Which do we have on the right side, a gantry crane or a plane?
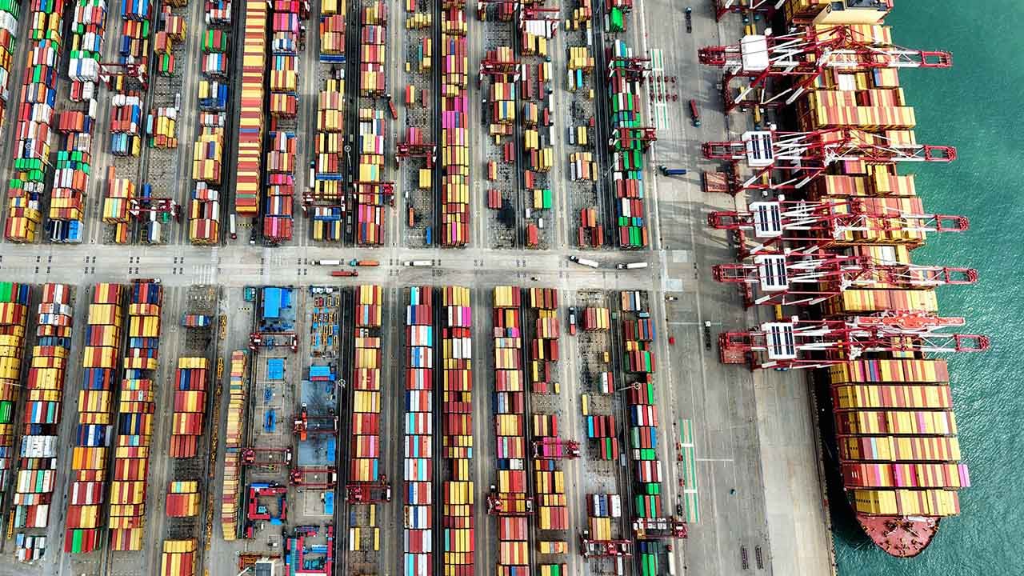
gantry crane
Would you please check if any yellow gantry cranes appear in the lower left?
No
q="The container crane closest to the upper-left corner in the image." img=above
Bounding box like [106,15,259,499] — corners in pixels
[98,63,162,96]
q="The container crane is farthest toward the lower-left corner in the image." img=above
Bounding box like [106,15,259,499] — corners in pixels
[241,446,300,467]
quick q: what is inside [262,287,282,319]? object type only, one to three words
shed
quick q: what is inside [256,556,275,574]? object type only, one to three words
shed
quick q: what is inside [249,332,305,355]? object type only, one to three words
container crane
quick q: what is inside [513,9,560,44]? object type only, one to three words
container crane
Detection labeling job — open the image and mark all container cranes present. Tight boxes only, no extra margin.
[713,313,994,375]
[601,127,656,158]
[241,446,300,467]
[249,332,305,355]
[474,0,520,28]
[707,245,983,314]
[620,513,689,539]
[525,438,580,460]
[483,490,533,514]
[477,61,521,94]
[690,17,948,116]
[570,531,632,558]
[718,0,791,32]
[353,182,400,210]
[697,118,963,202]
[268,0,314,25]
[289,466,343,489]
[130,198,192,226]
[293,414,345,436]
[599,59,652,92]
[703,192,975,264]
[513,9,560,44]
[303,194,351,222]
[345,480,392,504]
[393,143,436,173]
[98,63,162,96]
